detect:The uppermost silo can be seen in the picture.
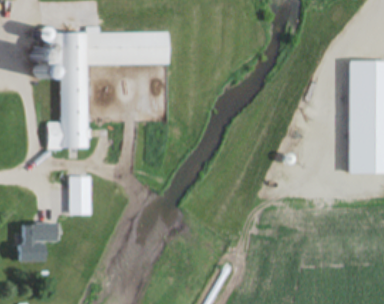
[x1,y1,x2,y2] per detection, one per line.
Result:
[32,26,56,42]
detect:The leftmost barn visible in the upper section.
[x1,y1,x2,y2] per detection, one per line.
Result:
[45,26,171,151]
